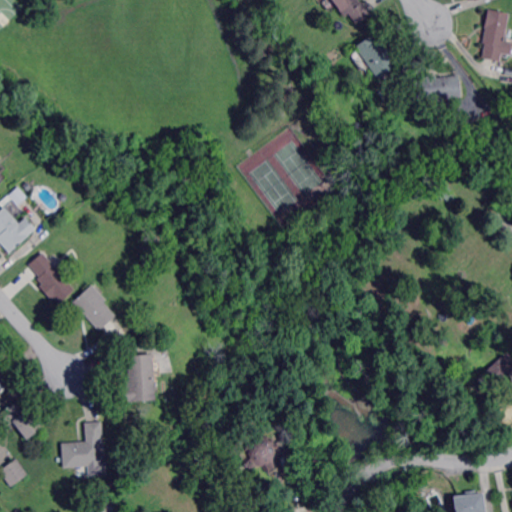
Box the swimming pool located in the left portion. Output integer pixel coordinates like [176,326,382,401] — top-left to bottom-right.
[31,185,60,215]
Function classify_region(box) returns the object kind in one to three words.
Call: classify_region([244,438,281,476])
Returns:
house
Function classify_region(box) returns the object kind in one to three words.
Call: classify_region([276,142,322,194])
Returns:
tennis court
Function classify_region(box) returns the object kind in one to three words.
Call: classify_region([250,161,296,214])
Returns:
tennis court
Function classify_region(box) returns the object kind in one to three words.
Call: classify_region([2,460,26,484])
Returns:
building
